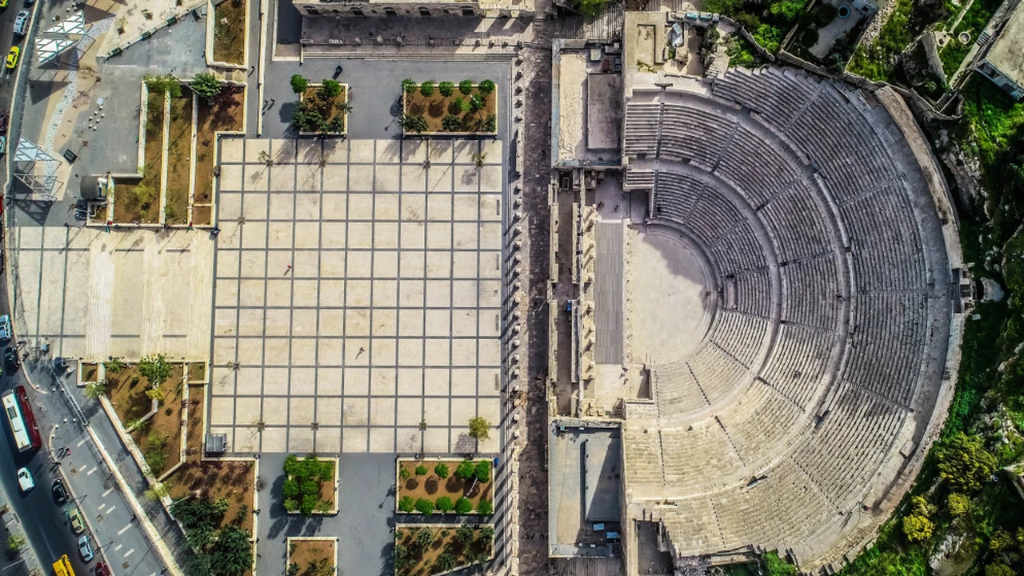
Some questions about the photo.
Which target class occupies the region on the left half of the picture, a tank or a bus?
bus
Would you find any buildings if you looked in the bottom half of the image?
Yes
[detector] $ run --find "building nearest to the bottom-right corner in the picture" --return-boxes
[547,417,621,556]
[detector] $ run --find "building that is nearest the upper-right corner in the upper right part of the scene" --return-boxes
[962,1,1024,107]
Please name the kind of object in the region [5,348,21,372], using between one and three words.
car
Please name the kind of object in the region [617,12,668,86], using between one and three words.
building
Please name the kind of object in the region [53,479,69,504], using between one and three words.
car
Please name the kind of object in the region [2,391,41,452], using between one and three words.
bus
